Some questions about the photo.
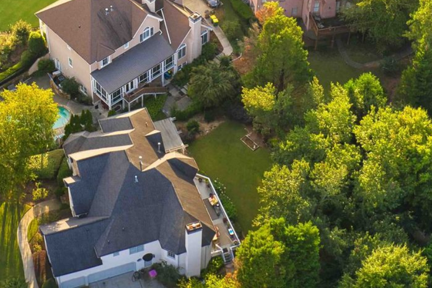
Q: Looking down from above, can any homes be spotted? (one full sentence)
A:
Yes, there's a home here.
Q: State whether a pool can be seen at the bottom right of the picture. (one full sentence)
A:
No, no pool is visible at the bottom right of the picture.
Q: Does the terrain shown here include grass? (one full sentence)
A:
Yes, grass shows up in the scene.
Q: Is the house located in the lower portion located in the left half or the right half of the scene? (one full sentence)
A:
The house located in the lower portion appears in the left half of the scene.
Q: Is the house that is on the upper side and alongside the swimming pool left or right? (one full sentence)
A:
The house that is on the upper side and alongside the swimming pool sits on the left side.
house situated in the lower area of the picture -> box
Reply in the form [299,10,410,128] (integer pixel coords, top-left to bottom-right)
[42,105,240,288]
